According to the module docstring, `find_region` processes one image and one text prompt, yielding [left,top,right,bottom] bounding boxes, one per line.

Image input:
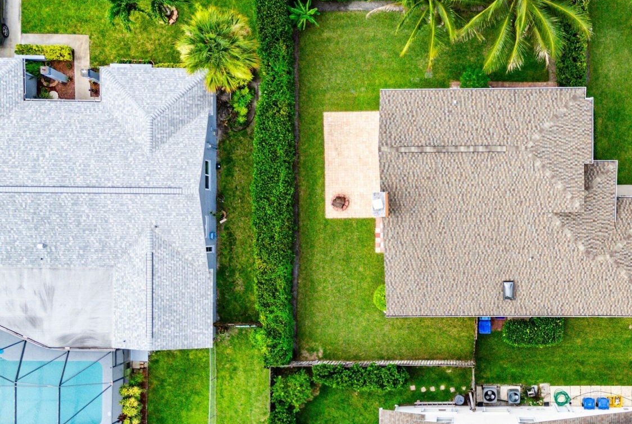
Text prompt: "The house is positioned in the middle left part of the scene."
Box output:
[0,54,219,355]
